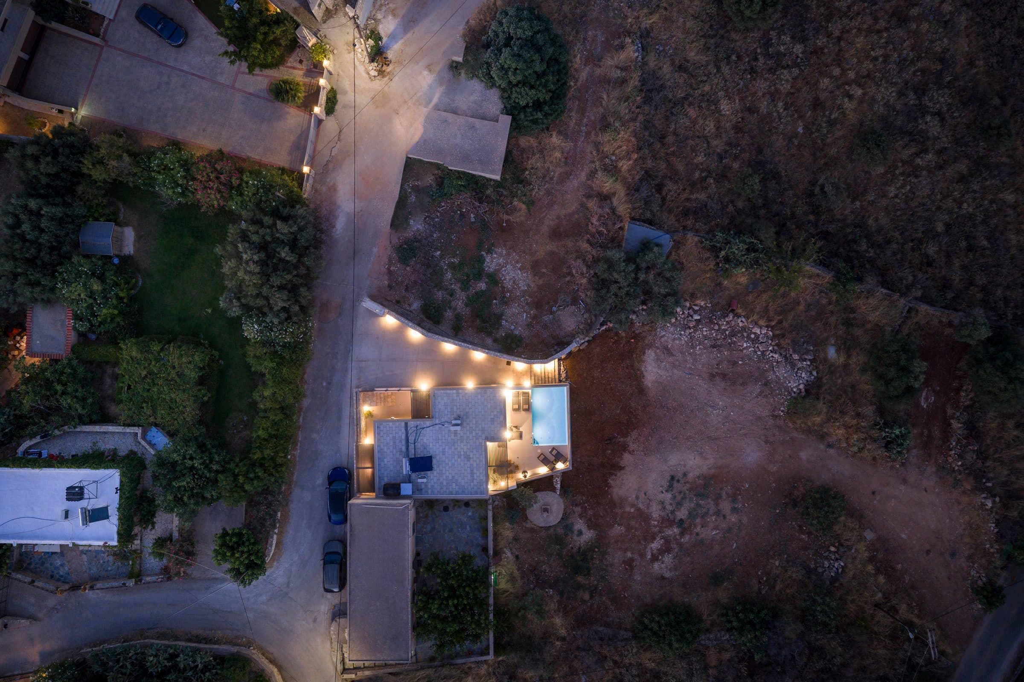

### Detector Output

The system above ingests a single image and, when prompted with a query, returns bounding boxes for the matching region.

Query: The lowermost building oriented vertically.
[348,496,419,661]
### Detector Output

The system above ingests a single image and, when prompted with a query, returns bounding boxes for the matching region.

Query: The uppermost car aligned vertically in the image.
[321,468,348,527]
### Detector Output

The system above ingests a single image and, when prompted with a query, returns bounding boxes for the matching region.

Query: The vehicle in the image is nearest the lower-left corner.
[317,541,344,595]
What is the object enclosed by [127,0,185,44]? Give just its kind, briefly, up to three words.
car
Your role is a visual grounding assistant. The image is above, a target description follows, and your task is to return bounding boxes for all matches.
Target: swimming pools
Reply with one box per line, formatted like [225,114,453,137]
[532,386,568,446]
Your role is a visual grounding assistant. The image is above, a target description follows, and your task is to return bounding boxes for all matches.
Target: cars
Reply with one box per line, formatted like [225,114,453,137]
[317,541,344,595]
[321,468,348,527]
[127,0,185,44]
